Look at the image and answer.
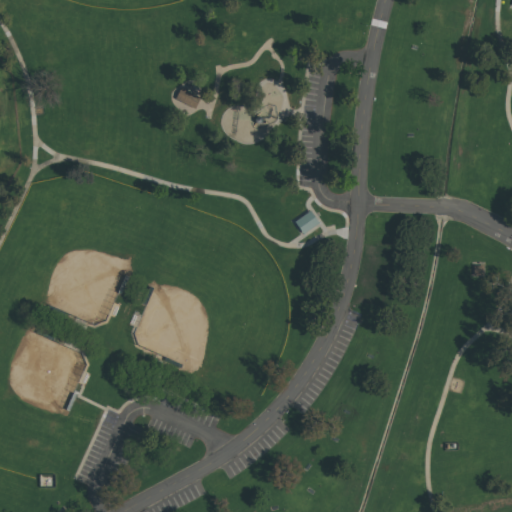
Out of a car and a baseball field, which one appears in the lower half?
baseball field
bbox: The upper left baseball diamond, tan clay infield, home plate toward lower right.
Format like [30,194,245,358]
[0,174,150,324]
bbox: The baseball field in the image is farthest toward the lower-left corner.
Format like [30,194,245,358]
[0,318,86,476]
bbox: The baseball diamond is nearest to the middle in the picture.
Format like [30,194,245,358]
[134,206,289,392]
